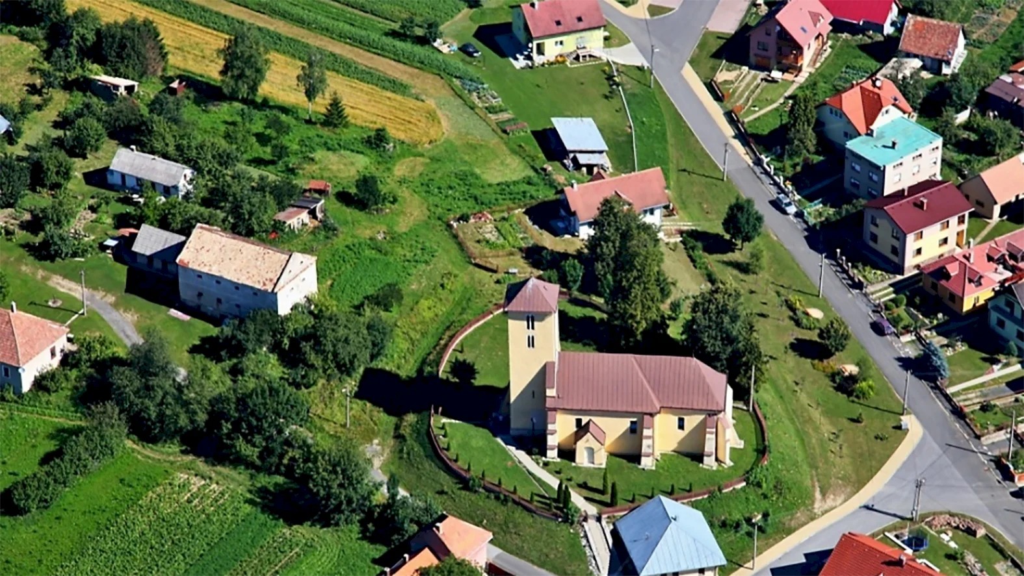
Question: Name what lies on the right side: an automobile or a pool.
automobile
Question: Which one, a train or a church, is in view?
church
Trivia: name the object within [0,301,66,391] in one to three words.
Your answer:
house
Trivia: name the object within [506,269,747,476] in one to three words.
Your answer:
church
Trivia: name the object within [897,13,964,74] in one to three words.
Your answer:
house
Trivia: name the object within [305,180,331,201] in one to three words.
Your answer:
shed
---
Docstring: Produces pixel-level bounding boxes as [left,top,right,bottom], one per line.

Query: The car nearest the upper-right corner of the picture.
[776,192,795,210]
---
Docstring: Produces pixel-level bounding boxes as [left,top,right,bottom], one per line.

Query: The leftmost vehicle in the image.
[456,39,480,54]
